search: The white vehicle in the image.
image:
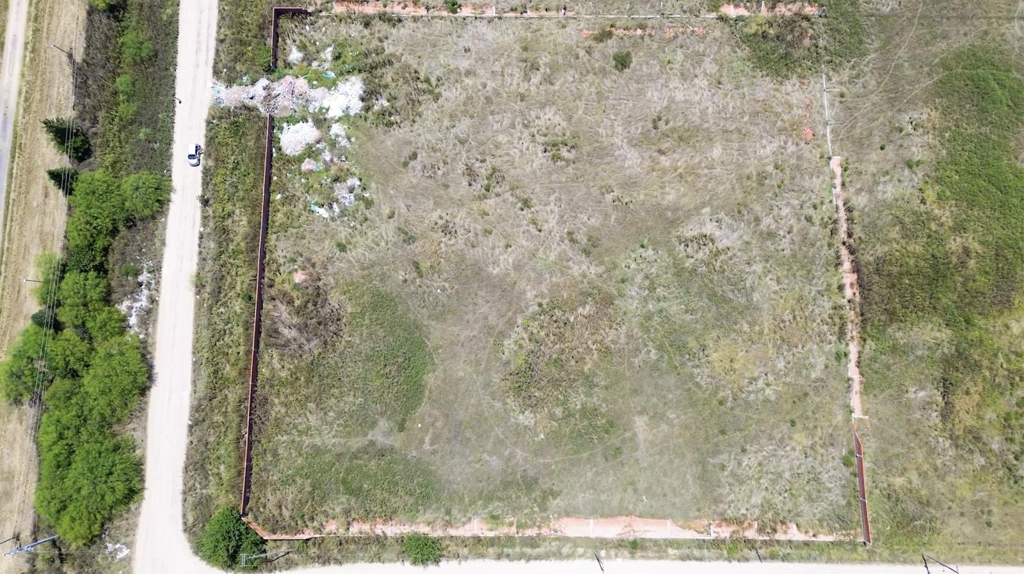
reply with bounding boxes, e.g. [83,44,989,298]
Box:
[187,143,205,167]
